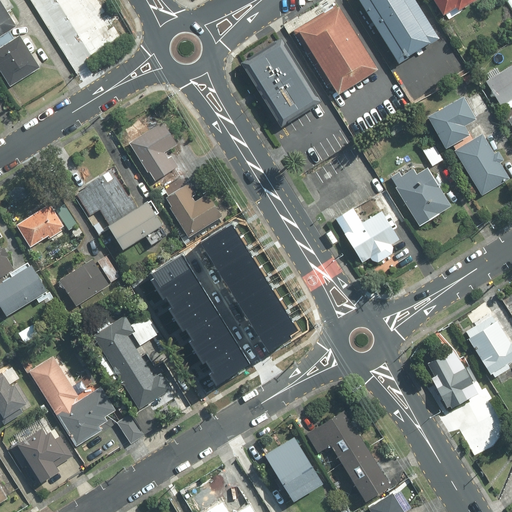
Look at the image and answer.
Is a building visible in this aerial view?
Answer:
Yes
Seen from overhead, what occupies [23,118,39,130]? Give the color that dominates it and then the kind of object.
white vehicle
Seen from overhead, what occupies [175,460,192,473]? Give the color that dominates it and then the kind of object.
white vehicle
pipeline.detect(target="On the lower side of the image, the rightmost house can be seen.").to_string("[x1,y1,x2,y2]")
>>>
[466,314,512,378]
